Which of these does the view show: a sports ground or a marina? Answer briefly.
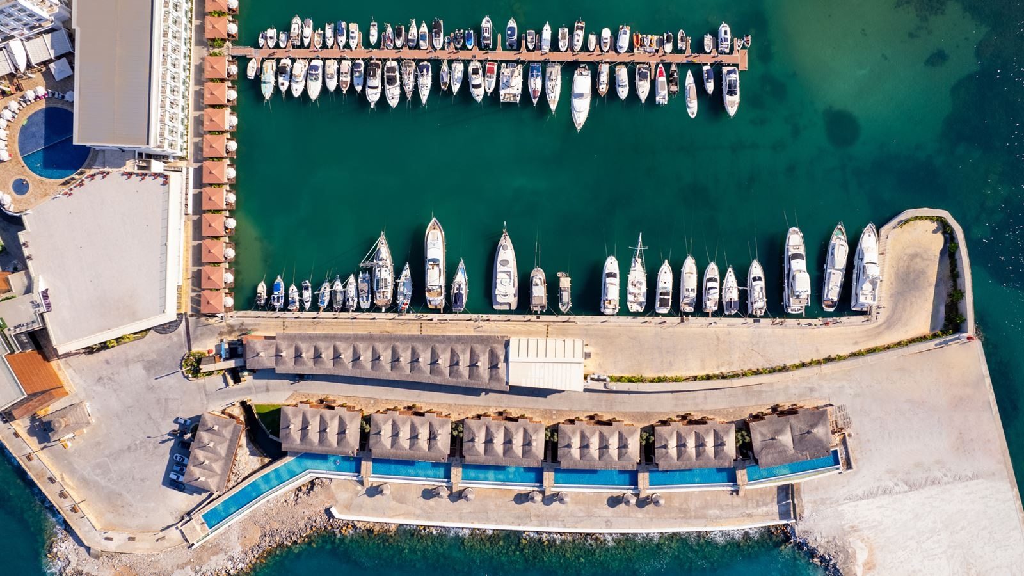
marina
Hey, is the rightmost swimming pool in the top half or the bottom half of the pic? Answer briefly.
bottom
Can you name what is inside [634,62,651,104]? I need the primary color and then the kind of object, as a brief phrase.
white boat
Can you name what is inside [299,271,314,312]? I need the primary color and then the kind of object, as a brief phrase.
white boat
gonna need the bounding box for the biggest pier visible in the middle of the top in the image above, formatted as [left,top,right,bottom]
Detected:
[253,32,747,80]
